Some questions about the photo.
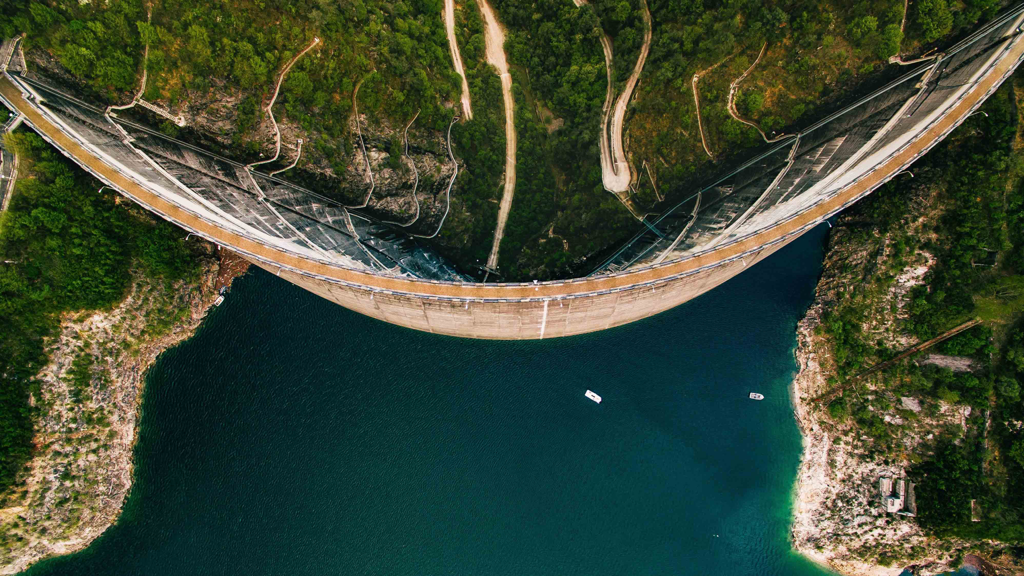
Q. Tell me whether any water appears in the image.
Yes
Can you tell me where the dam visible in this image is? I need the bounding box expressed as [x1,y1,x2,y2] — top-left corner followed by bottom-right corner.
[0,7,1024,340]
